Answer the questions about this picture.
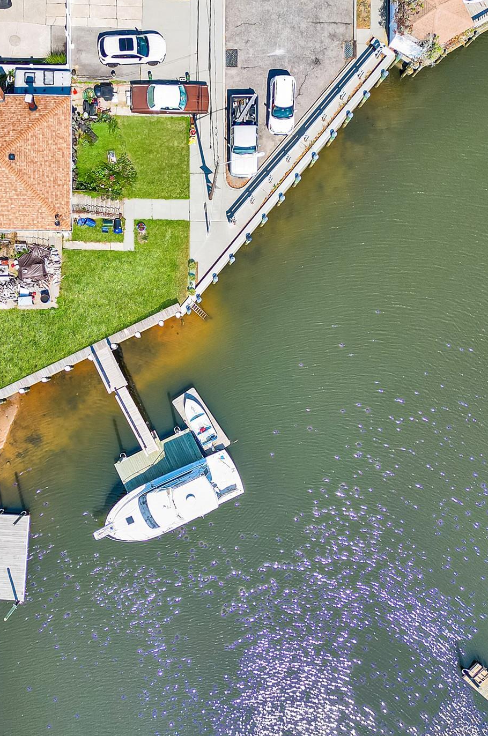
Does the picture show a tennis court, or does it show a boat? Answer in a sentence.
Of the two, only a boat appears.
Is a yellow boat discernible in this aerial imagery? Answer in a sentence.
No, there appears to be no yellow boat in this shot.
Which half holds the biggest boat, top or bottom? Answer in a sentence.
It is in the bottom half that the biggest boat appears.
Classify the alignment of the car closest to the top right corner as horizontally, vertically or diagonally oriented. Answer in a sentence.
The car closest to the top right corner has been laid out vertically relative to the frame.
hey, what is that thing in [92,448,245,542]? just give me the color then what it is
white boat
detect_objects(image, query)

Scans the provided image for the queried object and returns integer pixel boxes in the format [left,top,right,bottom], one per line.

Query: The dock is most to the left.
[0,514,32,602]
